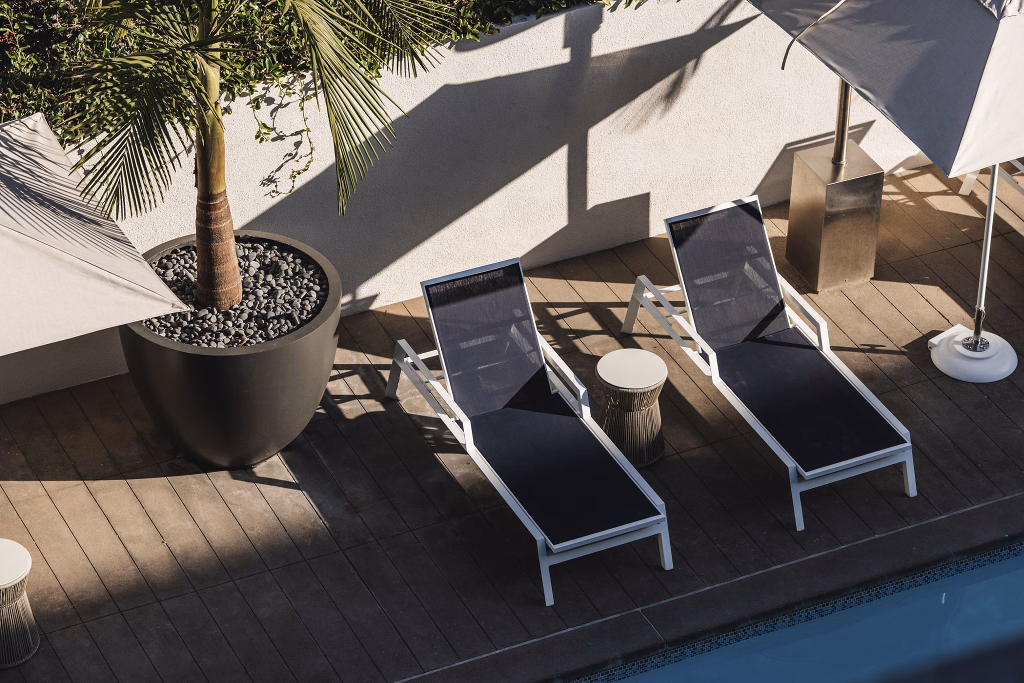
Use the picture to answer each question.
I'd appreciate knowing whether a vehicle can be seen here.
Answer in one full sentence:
No, I can't see a single vehicle in this photo.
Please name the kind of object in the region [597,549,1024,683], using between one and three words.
swimming pool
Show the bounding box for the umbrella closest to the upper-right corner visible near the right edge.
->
[754,0,1024,321]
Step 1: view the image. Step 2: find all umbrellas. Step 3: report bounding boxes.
[0,107,192,352]
[754,0,1024,321]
